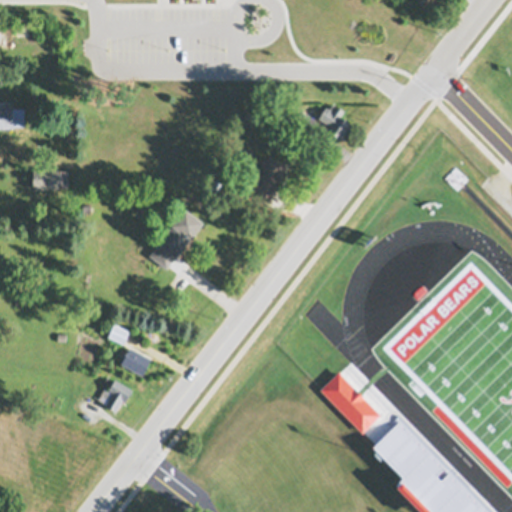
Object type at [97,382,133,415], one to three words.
house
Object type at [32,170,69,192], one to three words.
house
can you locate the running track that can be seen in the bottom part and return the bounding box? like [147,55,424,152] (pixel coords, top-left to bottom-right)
[306,220,512,512]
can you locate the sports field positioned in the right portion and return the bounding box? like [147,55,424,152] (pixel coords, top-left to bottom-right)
[372,253,512,494]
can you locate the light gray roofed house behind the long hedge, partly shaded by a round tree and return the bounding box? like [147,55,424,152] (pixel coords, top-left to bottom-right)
[316,104,352,142]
